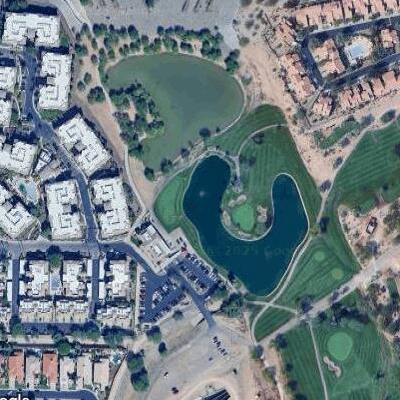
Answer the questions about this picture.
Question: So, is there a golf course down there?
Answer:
Yes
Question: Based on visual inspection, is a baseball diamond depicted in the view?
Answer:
No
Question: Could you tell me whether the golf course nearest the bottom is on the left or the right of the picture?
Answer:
right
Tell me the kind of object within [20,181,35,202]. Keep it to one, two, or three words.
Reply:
swimming pool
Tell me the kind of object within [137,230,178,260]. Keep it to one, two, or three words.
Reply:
building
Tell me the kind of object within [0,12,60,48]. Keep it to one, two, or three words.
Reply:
building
